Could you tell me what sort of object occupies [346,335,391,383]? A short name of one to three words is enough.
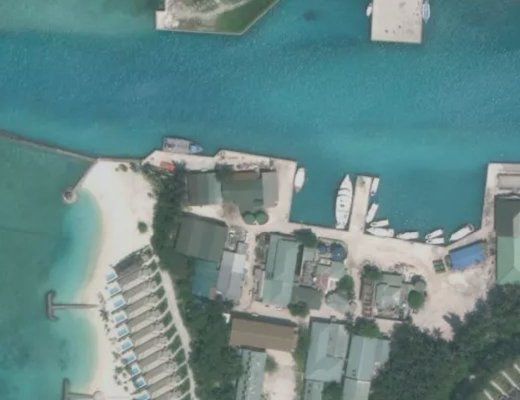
building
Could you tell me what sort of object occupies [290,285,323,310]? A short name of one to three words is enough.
house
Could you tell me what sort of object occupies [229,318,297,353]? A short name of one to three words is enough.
building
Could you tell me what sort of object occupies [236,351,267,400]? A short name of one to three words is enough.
shed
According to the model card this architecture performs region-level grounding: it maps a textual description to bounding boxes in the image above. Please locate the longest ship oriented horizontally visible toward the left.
[162,138,204,154]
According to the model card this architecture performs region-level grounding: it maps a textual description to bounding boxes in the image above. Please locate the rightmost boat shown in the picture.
[450,224,475,241]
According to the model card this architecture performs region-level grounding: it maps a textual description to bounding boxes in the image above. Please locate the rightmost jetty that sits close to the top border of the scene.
[371,0,422,43]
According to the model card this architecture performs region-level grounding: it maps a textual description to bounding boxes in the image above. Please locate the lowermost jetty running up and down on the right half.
[349,176,371,234]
